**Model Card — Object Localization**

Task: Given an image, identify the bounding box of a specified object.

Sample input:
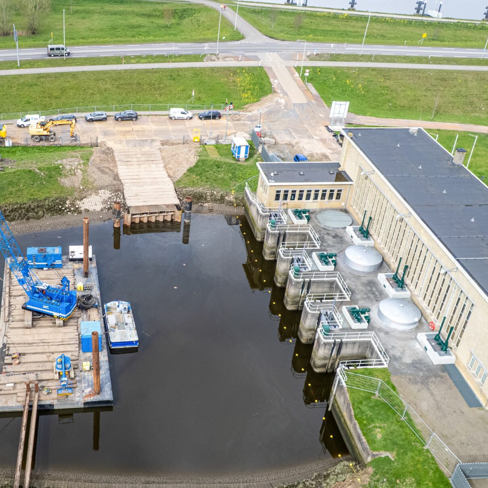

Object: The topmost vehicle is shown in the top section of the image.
[45,43,70,57]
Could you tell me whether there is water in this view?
Yes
